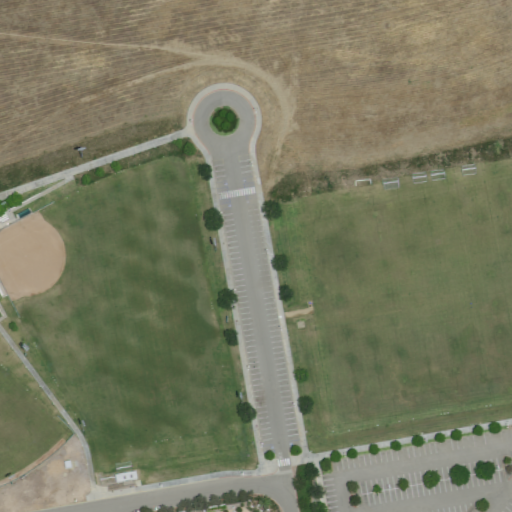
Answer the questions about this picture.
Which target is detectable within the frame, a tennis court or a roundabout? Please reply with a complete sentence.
The image shows a roundabout.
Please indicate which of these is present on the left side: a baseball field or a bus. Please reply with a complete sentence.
It is a baseball field that can be seen on the left side.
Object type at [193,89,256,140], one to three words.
roundabout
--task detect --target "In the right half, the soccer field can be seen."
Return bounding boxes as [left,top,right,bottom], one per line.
[264,158,512,453]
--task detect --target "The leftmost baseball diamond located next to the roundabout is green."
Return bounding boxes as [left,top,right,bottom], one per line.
[0,138,258,487]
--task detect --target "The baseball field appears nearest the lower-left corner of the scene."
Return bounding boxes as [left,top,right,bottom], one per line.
[0,332,74,485]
